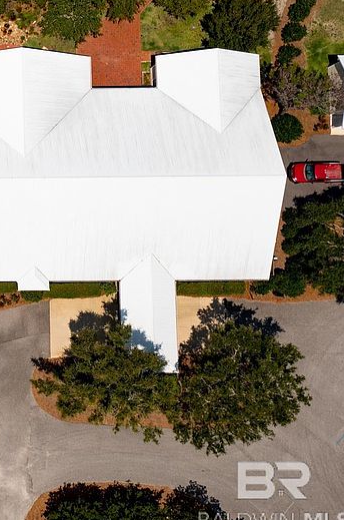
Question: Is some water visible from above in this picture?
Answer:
No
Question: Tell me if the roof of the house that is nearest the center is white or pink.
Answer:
white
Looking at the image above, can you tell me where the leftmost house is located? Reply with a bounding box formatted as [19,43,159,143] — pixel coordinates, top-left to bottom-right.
[0,47,286,373]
